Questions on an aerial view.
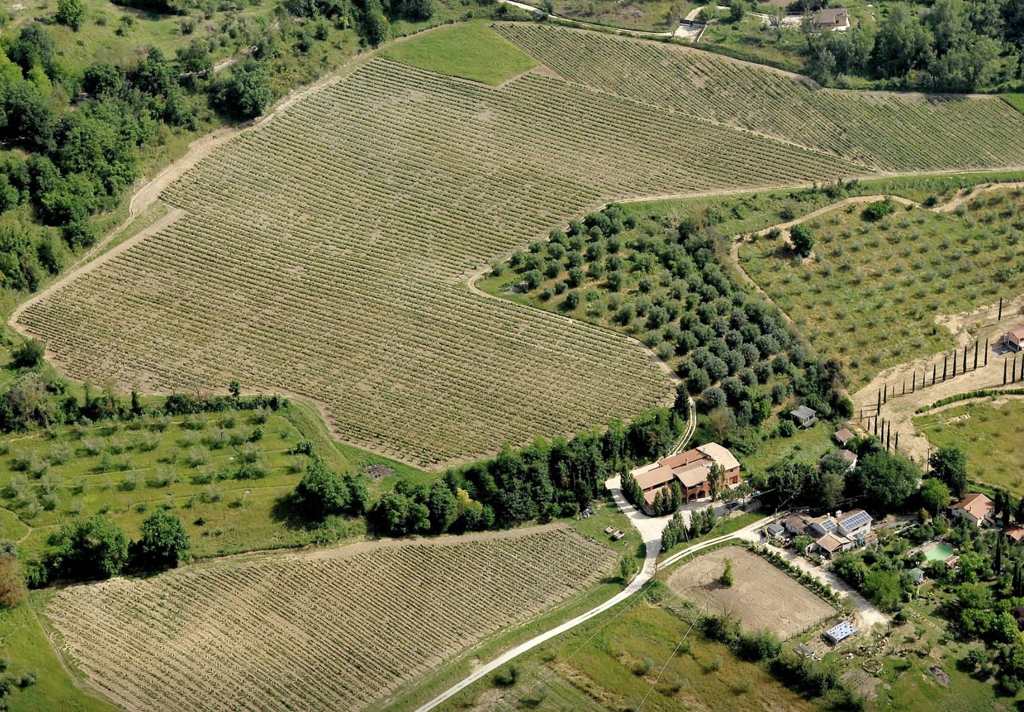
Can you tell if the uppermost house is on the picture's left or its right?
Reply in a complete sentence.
The uppermost house appears in the right half of the scene.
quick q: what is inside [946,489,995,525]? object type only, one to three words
house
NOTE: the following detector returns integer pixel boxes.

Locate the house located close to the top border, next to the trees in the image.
[814,11,854,35]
